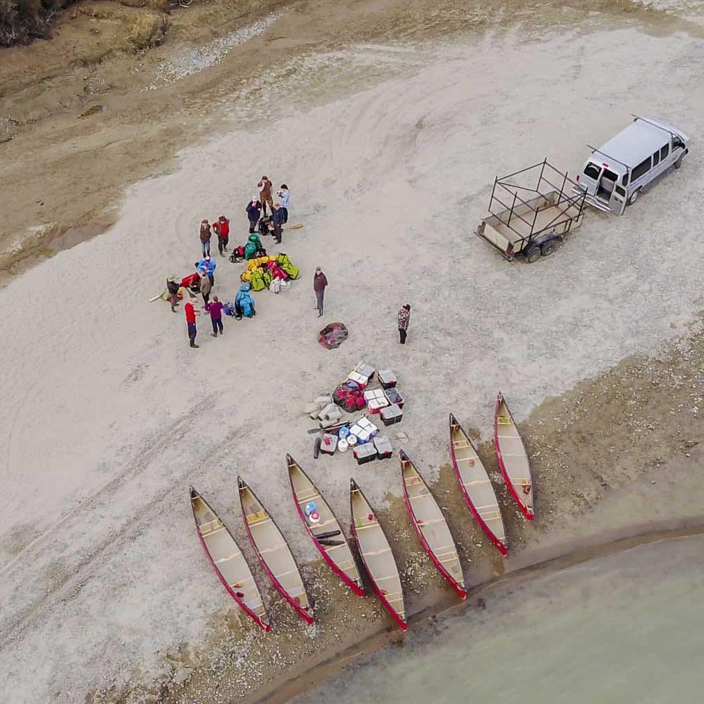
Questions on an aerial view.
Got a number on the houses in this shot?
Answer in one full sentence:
No houses are visible.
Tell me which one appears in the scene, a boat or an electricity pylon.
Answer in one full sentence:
Visible in the photo is a boat.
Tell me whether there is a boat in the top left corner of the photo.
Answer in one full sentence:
No, no boat can be made out in the top left corner of the photo.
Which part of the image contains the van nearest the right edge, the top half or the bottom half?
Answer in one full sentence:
Seen from above, the van nearest the right edge lies in the top half of the view.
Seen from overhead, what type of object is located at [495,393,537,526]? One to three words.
boat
